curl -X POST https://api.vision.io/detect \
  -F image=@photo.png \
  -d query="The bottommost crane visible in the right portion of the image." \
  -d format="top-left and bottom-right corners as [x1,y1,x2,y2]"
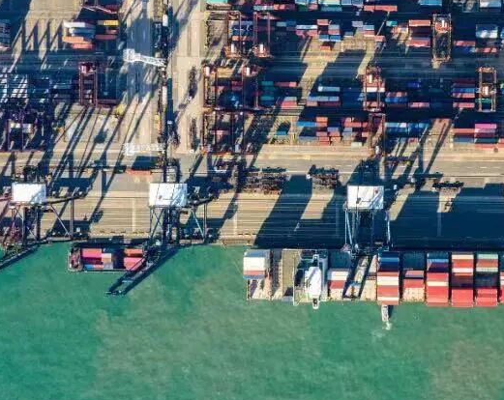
[340,170,398,296]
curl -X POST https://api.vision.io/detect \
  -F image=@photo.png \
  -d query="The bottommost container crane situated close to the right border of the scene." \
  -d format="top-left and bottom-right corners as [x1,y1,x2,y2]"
[474,61,496,116]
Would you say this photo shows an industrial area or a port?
port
